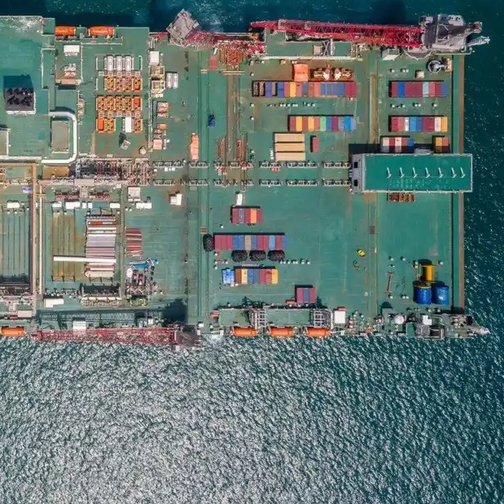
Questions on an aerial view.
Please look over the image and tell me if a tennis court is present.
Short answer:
No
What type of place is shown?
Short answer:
port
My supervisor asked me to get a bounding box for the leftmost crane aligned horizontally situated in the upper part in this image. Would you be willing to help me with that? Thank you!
[159,10,265,57]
